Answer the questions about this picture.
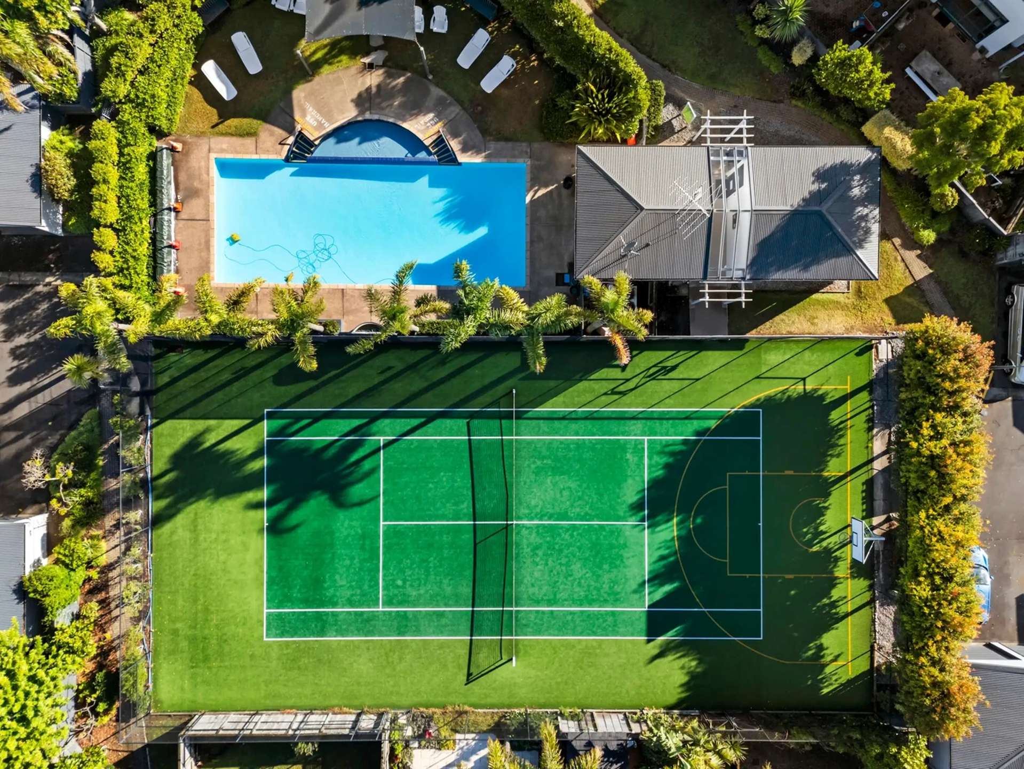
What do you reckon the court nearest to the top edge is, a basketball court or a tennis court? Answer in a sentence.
I'd identify the court nearest to the top edge as a tennis court.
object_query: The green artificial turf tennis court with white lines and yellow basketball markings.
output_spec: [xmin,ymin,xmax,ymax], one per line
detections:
[152,342,874,712]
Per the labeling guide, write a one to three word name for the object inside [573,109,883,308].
building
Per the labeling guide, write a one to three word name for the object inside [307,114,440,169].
swimming pool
